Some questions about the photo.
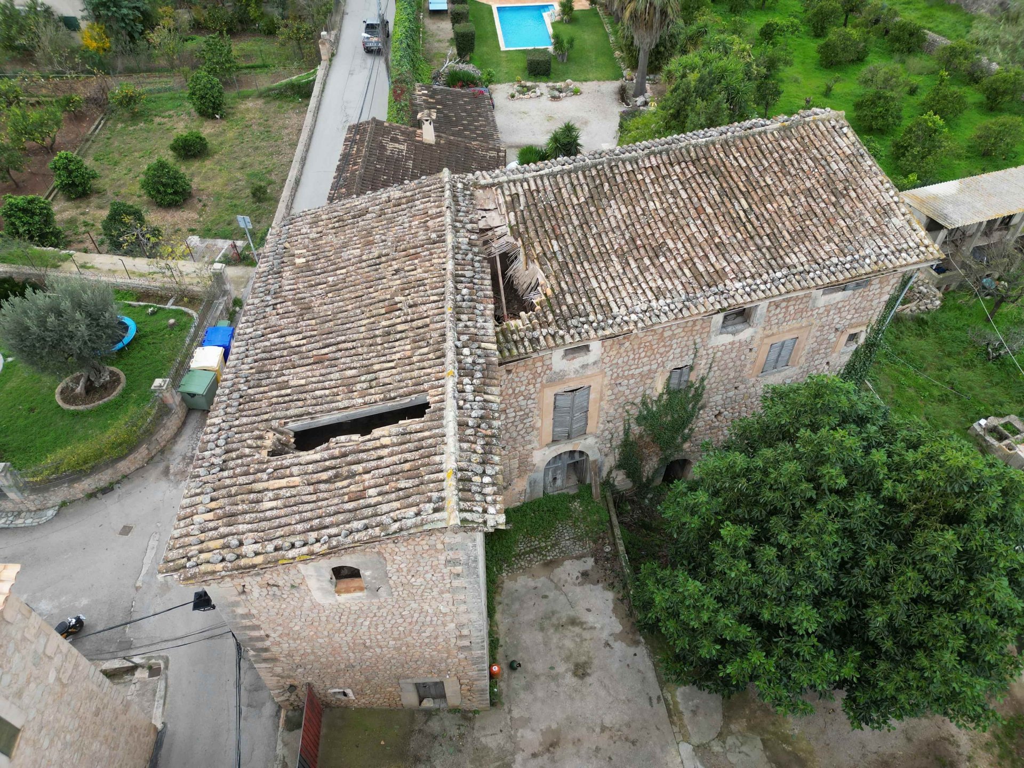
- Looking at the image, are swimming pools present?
Yes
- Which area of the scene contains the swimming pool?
top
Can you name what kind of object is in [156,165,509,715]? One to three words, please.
house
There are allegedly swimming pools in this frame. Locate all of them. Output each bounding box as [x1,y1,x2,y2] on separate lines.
[492,4,556,50]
